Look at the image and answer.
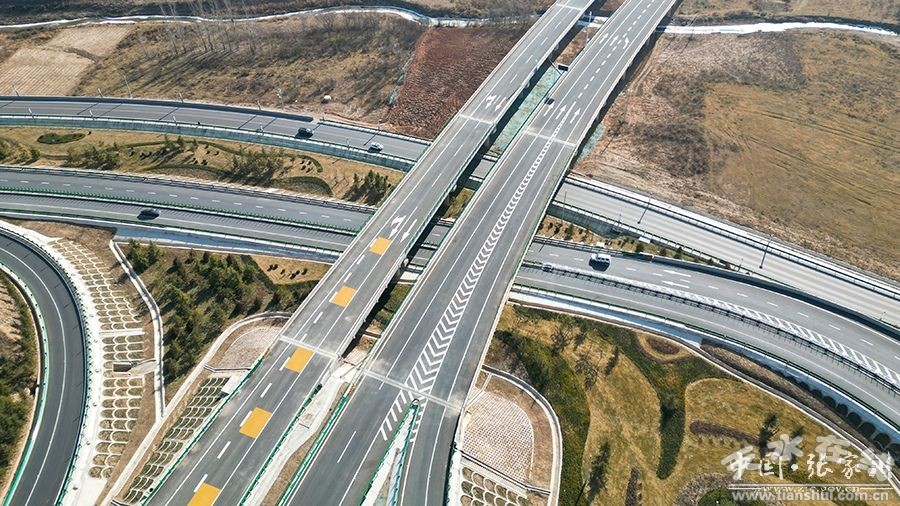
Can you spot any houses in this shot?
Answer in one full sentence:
No, there's no house here.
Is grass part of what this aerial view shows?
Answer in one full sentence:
Yes, there is grass in the image.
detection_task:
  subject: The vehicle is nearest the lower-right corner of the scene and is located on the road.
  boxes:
[589,253,613,266]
